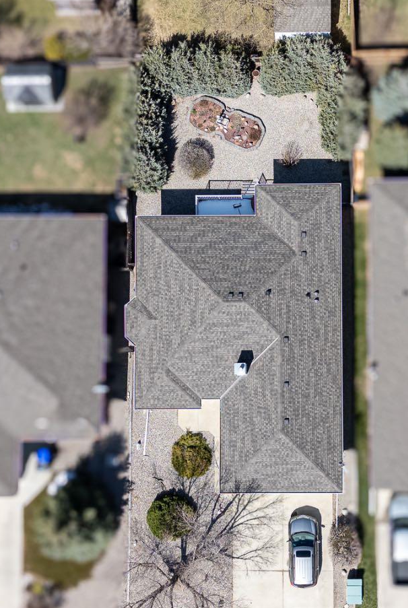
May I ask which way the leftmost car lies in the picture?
up and down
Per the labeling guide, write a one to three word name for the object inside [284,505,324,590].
car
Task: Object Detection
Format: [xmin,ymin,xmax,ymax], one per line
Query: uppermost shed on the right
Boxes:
[274,0,330,47]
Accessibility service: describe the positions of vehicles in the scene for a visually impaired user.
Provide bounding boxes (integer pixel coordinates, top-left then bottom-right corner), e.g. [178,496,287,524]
[284,505,324,590]
[384,492,408,589]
